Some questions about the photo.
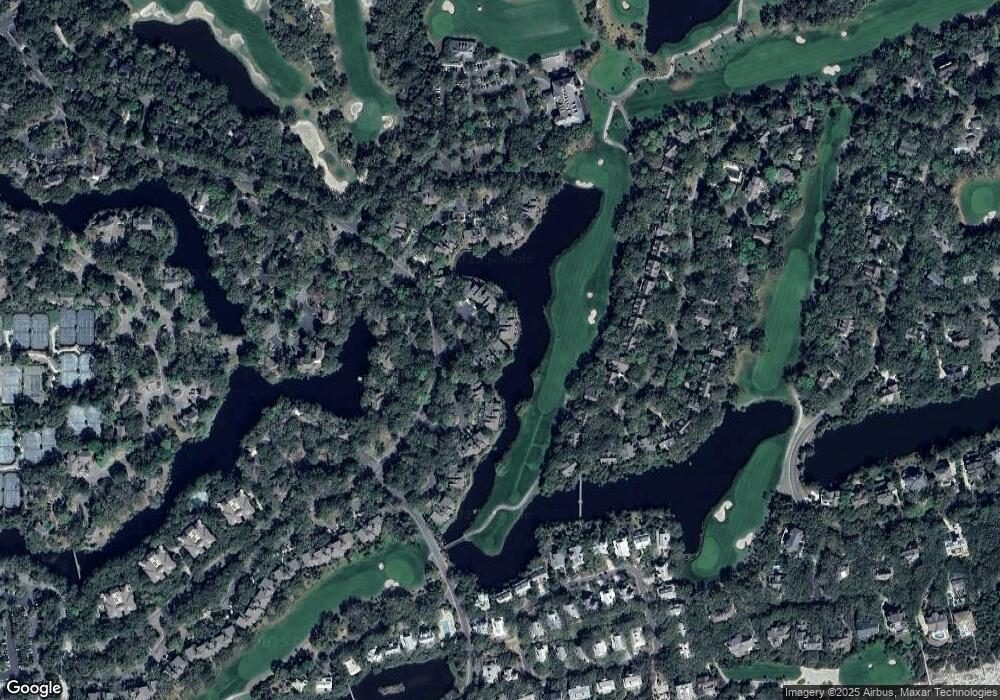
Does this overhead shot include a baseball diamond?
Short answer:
No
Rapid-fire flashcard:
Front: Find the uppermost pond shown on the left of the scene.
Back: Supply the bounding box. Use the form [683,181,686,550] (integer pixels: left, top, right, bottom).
[131,20,280,116]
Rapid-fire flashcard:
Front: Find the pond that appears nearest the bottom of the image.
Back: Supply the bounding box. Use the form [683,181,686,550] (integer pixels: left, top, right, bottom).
[344,658,458,700]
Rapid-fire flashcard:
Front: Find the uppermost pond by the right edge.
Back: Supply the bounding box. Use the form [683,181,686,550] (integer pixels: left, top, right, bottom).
[804,391,1000,484]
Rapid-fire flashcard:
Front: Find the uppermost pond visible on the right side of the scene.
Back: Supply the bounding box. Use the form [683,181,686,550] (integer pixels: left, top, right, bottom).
[645,0,733,55]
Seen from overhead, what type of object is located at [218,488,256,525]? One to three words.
house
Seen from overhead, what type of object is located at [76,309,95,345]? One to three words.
tennis court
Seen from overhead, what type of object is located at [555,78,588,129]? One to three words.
building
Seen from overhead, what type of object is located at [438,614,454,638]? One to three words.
swimming pool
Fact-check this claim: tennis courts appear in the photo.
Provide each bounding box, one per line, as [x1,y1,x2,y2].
[13,312,30,350]
[78,351,94,385]
[22,366,42,401]
[0,429,16,464]
[84,404,100,433]
[61,352,78,390]
[59,309,76,345]
[41,428,57,458]
[2,365,21,403]
[30,312,48,350]
[67,404,84,434]
[3,472,21,509]
[21,430,40,461]
[76,309,95,345]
